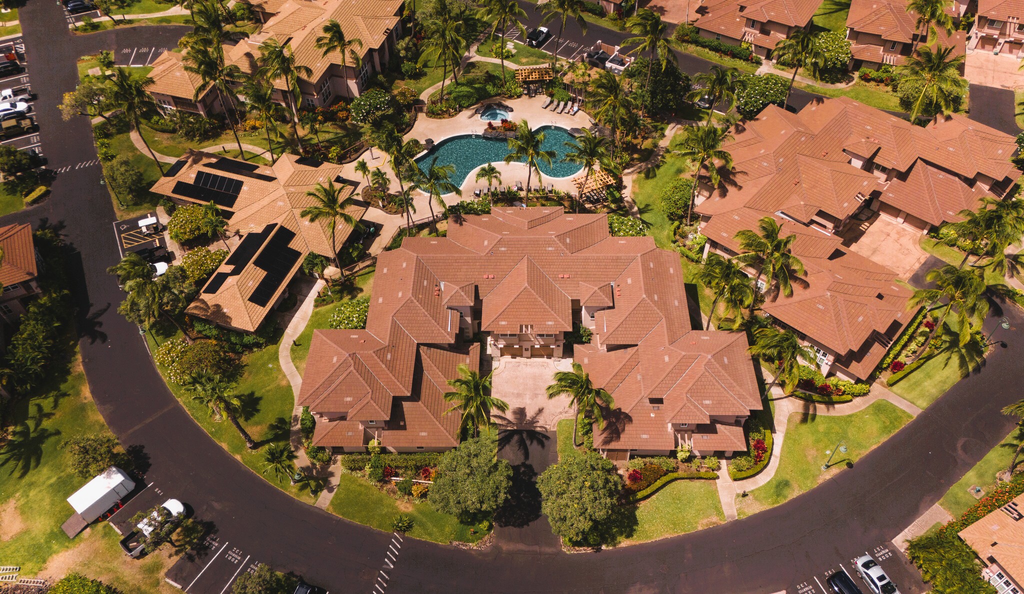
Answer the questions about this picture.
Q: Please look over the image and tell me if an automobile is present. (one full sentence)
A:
Yes, an automobile is visible in the scene.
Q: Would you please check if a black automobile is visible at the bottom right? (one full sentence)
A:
Yes, you'll find a black automobile at the bottom right.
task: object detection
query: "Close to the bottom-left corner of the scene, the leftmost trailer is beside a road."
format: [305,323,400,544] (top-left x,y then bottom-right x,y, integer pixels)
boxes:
[56,466,141,545]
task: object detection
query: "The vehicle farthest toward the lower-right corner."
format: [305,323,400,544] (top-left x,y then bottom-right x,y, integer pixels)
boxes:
[857,549,906,594]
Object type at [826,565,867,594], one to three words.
car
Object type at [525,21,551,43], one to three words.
car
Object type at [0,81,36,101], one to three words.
vehicle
